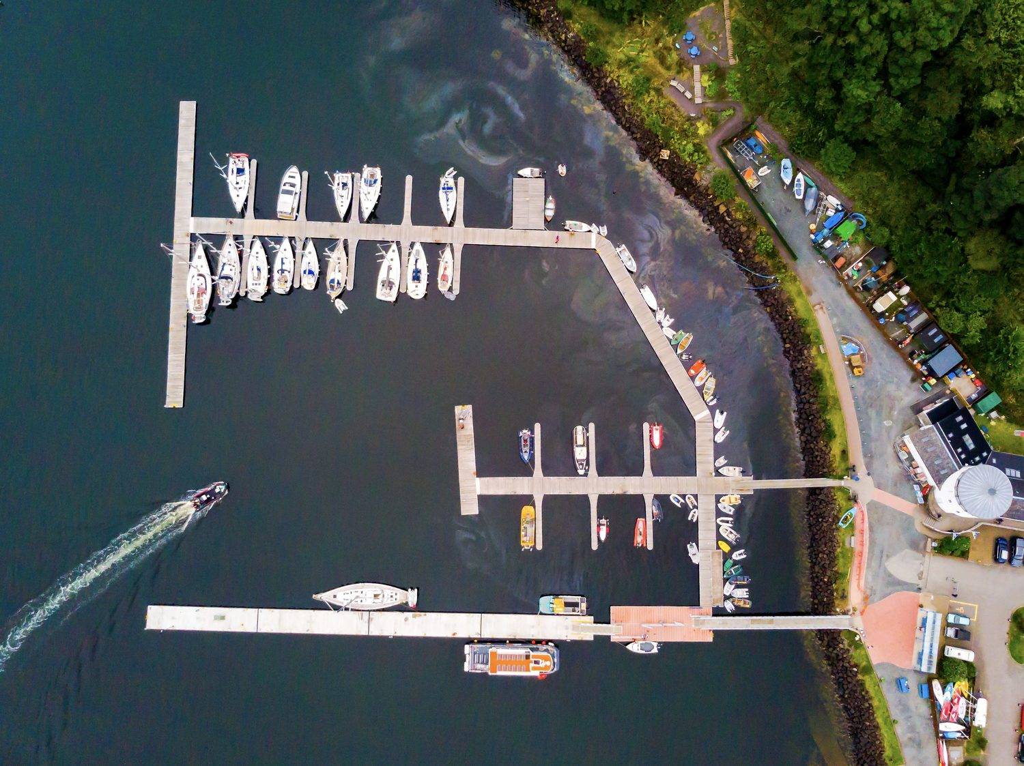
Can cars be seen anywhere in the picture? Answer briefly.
Yes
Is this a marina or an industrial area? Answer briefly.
marina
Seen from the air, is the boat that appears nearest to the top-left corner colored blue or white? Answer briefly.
white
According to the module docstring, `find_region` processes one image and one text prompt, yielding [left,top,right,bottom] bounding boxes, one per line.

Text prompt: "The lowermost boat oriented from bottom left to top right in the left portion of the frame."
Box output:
[191,483,230,513]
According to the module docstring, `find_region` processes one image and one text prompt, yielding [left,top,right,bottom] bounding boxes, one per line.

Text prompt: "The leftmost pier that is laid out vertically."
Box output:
[164,101,197,407]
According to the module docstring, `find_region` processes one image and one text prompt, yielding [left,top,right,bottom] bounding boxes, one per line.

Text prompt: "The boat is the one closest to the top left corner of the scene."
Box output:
[205,151,252,217]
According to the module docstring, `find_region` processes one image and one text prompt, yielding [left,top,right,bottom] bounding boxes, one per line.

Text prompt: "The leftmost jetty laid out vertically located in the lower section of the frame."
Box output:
[455,405,479,515]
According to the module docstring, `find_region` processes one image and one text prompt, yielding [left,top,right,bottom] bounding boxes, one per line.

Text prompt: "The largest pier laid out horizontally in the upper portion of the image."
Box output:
[190,160,595,296]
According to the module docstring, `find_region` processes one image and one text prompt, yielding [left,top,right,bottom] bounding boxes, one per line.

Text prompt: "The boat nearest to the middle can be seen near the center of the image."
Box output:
[519,428,533,463]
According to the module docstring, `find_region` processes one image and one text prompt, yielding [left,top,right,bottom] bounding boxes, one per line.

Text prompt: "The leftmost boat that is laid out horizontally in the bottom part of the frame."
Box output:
[309,582,409,612]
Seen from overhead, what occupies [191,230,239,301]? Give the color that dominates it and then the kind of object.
white boat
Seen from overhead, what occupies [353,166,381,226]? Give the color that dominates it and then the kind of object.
white boat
